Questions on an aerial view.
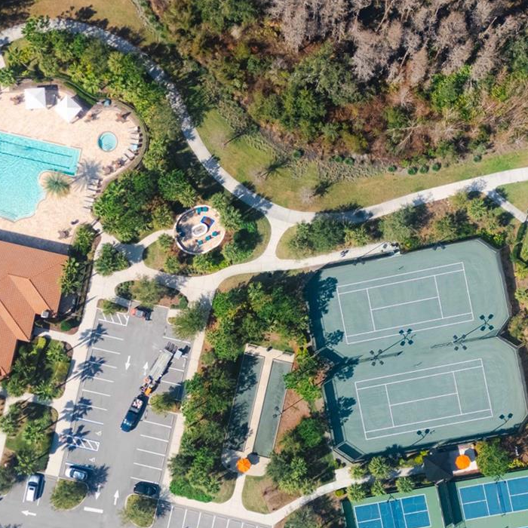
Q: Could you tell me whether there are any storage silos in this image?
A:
No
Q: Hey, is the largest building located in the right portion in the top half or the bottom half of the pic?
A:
bottom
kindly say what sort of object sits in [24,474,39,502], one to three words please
car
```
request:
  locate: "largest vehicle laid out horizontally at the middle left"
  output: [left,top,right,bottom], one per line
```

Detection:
[131,308,152,321]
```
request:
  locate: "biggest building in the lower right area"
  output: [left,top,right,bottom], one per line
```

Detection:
[420,449,455,483]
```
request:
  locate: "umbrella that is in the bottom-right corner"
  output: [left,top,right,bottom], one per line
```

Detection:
[455,454,469,469]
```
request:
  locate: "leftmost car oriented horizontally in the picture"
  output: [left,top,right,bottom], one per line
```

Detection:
[64,467,88,481]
